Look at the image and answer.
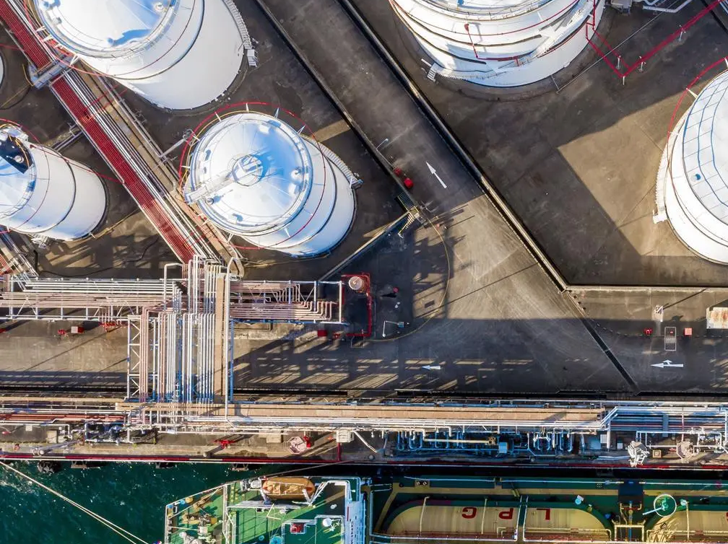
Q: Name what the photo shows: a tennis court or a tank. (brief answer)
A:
tank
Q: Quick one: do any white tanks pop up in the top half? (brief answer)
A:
Yes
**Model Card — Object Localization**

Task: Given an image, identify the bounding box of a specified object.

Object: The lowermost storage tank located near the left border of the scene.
[0,108,113,246]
